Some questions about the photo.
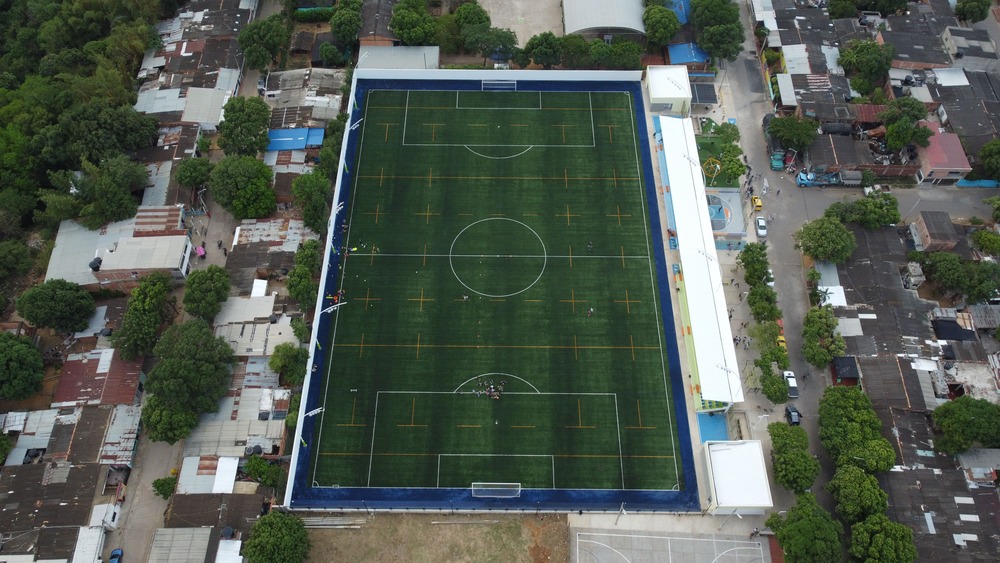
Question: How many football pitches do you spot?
1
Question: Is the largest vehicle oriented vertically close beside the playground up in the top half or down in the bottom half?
top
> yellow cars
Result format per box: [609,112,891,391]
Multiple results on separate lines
[775,337,788,352]
[751,195,764,213]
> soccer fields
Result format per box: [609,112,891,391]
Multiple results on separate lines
[291,79,698,509]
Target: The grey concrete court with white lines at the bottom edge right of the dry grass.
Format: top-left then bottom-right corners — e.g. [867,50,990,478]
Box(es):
[568,527,783,563]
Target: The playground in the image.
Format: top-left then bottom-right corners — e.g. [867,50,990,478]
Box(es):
[695,118,744,180]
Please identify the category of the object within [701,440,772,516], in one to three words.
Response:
building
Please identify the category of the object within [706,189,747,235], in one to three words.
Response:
basketball court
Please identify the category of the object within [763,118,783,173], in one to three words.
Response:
vehicle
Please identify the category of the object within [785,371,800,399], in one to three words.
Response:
vehicle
